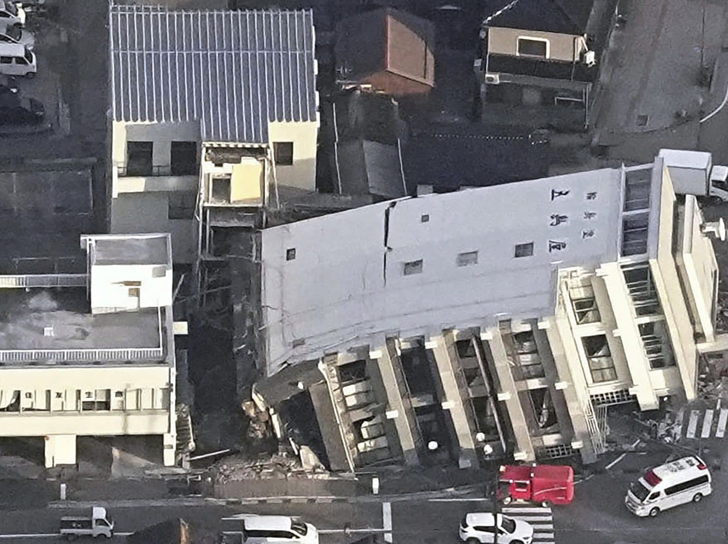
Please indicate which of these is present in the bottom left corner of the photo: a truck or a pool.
truck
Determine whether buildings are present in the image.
Yes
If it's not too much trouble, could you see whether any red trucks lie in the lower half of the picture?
Yes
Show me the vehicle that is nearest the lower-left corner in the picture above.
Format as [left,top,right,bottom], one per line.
[57,503,116,540]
